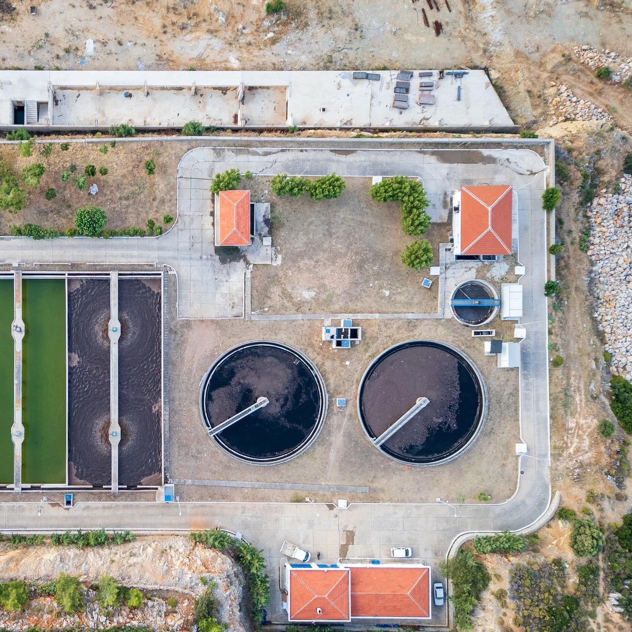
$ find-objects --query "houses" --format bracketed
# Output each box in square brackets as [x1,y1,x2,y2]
[214,190,259,249]
[286,564,432,624]
[449,185,513,262]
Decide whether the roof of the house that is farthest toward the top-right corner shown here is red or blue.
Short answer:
red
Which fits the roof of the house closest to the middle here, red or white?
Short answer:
red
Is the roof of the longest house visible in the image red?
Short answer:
Yes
